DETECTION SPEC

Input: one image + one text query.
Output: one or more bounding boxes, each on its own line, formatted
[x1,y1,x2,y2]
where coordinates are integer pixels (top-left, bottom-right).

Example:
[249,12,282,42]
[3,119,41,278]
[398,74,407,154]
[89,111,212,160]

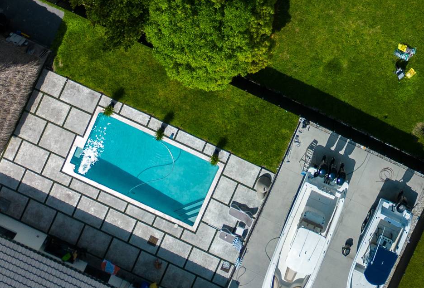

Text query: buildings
[0,29,54,172]
[0,214,164,288]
